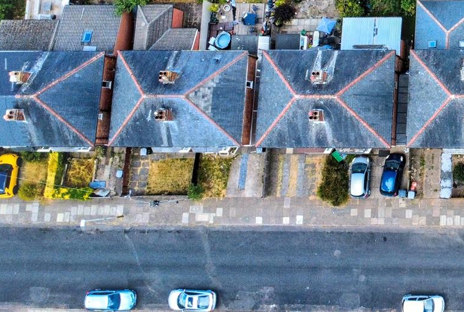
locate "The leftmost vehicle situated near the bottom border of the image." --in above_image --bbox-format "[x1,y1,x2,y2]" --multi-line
[82,286,140,312]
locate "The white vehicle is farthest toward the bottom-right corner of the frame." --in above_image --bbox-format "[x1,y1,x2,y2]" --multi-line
[401,292,447,312]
